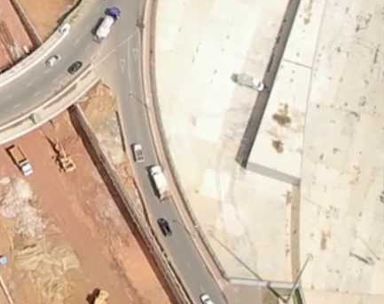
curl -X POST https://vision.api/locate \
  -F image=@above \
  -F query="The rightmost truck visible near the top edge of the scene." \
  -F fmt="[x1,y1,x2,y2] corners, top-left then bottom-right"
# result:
[95,7,118,39]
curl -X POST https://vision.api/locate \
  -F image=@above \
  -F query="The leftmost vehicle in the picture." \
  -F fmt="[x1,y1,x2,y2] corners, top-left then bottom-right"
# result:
[9,145,29,176]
